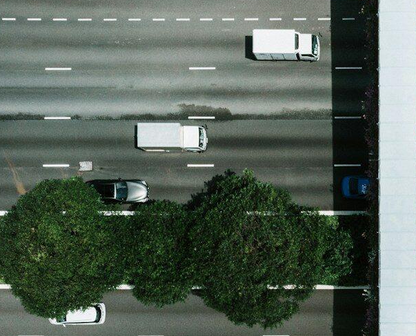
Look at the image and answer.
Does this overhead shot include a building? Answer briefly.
No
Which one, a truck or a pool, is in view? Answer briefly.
truck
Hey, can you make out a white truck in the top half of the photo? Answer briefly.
Yes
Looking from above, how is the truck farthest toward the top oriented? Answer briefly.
from left to right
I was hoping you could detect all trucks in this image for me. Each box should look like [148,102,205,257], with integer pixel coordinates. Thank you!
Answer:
[135,122,210,152]
[252,26,322,58]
